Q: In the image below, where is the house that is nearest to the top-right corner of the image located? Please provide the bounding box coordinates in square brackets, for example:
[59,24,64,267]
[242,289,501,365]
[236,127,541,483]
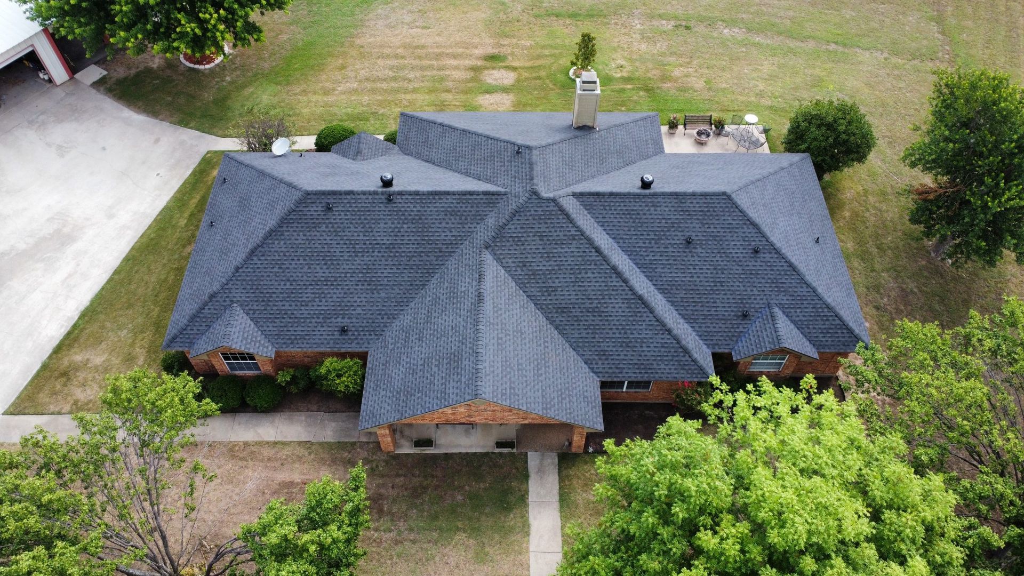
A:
[160,71,872,453]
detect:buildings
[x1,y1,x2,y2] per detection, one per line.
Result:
[160,71,872,453]
[0,0,75,120]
